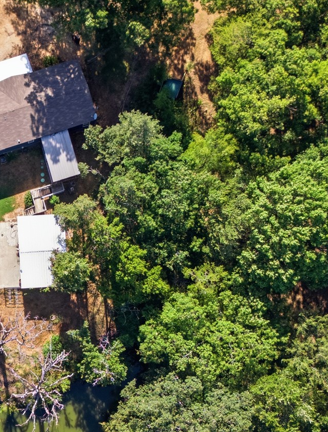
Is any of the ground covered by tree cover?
Yes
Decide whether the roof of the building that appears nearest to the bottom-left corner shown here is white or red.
white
